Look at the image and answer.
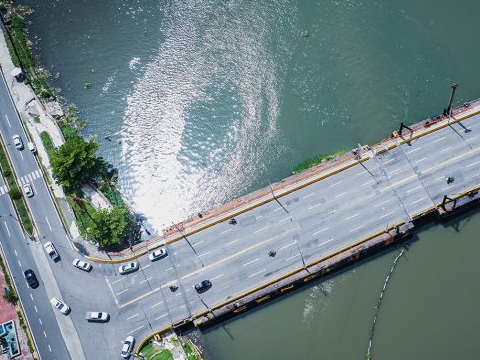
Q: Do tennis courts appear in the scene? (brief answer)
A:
No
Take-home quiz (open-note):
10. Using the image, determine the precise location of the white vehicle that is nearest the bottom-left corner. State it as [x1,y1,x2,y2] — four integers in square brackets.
[50,297,72,316]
